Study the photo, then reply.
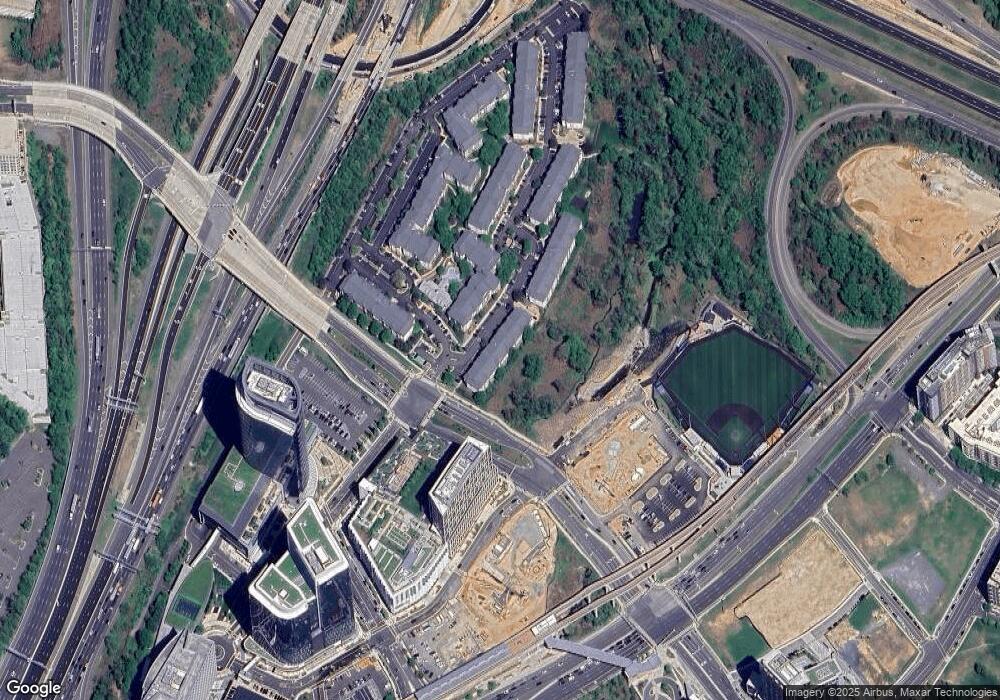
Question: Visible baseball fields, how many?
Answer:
1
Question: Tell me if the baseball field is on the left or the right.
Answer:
right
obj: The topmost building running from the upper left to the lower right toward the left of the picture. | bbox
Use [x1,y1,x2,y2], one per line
[339,270,416,341]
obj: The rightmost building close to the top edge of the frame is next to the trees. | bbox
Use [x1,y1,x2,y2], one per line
[562,31,589,129]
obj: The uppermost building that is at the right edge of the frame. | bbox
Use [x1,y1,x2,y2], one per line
[916,321,1000,421]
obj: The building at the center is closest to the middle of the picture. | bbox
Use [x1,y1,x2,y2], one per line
[463,306,532,392]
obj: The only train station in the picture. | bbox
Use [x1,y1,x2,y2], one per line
[414,616,558,700]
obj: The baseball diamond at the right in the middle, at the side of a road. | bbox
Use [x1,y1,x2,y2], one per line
[657,322,814,466]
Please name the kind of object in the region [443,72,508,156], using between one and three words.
building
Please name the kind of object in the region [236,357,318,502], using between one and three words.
building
